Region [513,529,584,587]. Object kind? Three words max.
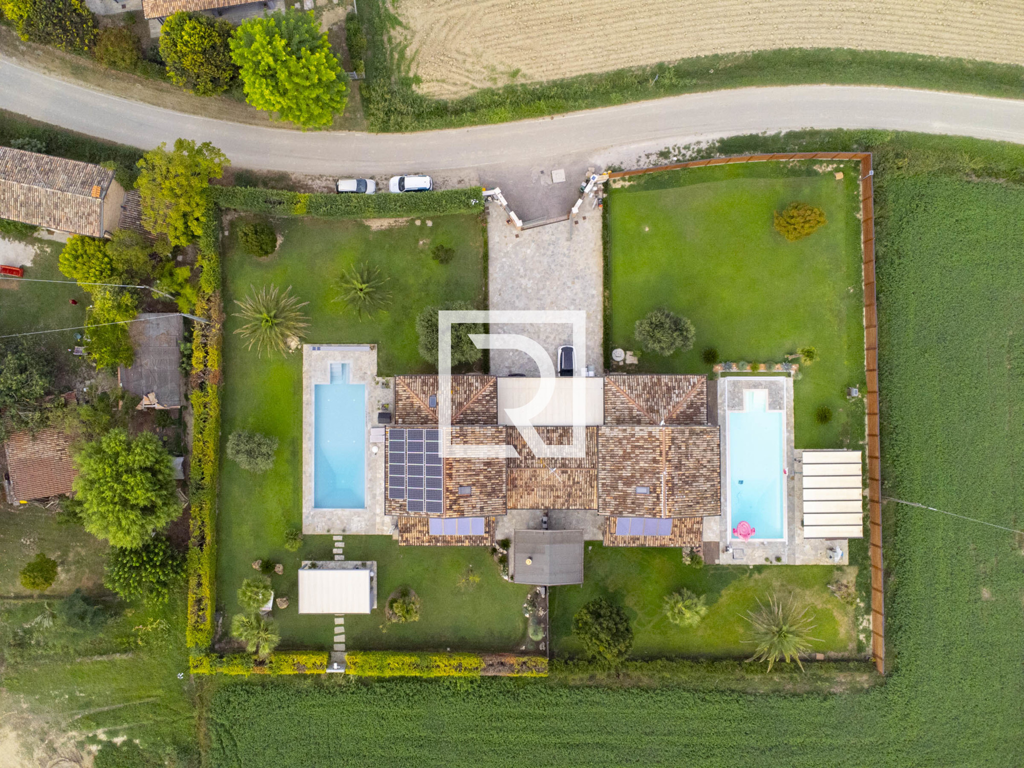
shed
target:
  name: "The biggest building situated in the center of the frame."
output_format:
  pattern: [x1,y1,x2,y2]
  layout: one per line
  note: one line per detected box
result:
[384,374,722,547]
